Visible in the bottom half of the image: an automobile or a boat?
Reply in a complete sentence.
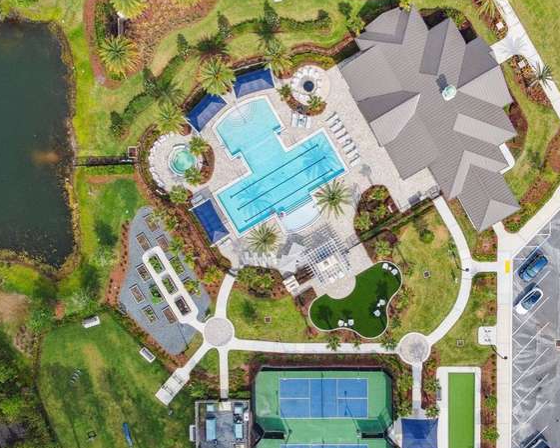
Looking in the bottom half of the image, you will find an automobile.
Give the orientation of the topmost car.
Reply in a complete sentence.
The topmost car is oriented at an angle.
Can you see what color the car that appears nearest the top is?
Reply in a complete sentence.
From above, the car that appears nearest the top appears blue.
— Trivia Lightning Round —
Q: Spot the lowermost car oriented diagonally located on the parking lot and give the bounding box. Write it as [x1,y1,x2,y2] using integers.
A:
[515,285,545,314]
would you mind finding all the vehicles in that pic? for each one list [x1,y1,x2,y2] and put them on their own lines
[515,285,545,314]
[532,439,551,448]
[520,253,551,282]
